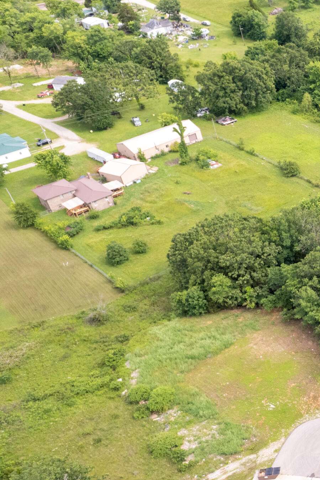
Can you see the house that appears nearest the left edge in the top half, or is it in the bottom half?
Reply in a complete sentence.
The top half of the photo is where the house that appears nearest the left edge is.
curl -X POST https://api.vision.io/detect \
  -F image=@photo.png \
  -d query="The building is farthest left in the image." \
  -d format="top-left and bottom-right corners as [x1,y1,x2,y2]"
[0,133,34,163]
